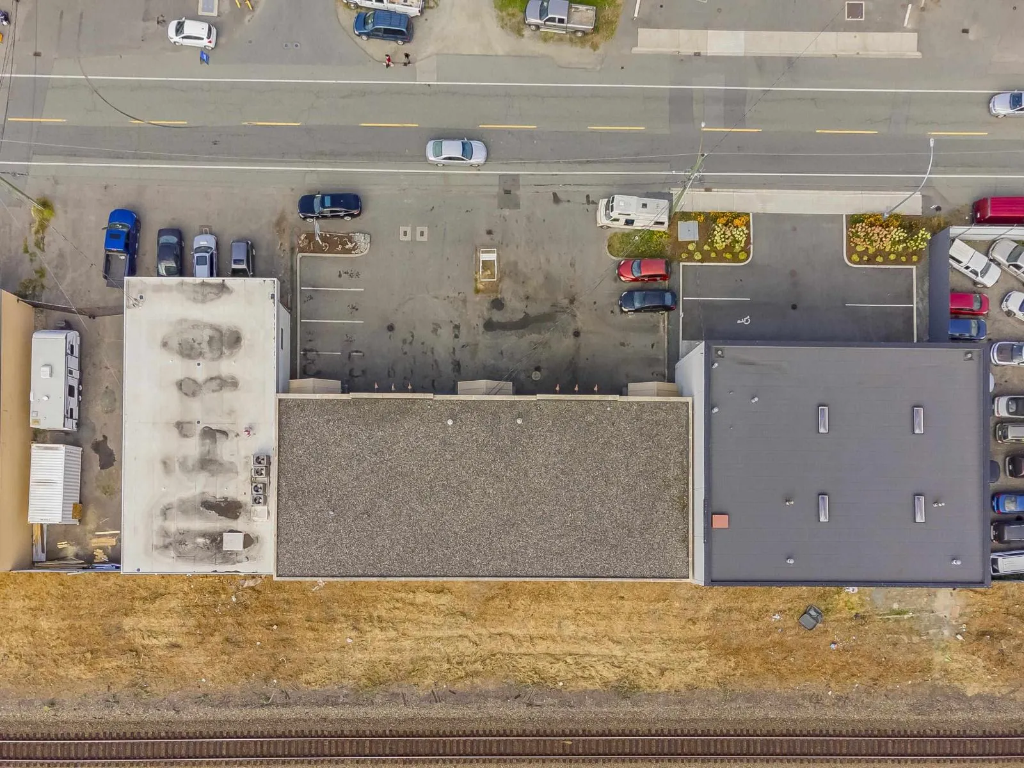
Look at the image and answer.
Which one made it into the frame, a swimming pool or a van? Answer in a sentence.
Of the two, only a van appears.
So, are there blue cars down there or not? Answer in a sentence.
Yes, a blue car is visible in the scene.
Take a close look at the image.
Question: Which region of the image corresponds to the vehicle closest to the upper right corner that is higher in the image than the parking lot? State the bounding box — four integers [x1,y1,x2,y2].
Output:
[985,88,1024,121]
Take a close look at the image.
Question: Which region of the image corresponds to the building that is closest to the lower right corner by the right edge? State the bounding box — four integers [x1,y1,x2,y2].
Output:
[676,341,991,587]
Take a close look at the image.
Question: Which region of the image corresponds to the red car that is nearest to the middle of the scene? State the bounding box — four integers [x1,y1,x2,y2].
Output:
[616,256,671,284]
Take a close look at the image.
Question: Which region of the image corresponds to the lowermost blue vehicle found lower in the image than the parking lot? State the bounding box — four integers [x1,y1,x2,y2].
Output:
[990,492,1024,515]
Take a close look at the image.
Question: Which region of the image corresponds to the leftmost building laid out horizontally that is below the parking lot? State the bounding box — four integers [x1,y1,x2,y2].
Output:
[274,381,692,582]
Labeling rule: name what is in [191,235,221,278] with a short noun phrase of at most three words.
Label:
car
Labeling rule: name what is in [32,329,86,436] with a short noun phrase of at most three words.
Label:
trailer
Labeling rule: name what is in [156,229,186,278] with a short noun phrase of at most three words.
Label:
car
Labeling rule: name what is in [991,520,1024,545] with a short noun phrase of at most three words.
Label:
truck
